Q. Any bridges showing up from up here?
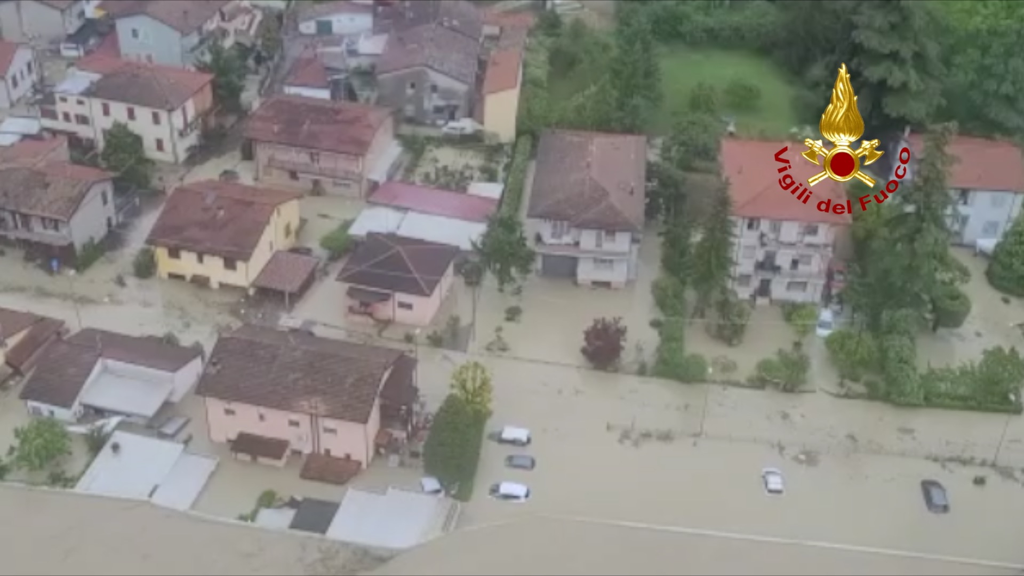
No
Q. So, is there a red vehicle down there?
No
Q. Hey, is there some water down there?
Yes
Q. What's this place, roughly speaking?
residential area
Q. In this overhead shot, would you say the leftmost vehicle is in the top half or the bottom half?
top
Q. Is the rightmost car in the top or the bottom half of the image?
bottom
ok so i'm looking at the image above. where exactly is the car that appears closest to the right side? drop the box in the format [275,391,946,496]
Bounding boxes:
[919,480,953,518]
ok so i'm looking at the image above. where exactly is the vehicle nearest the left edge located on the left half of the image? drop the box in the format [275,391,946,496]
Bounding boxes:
[58,37,85,58]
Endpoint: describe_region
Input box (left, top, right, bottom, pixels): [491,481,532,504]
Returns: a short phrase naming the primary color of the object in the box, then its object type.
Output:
white car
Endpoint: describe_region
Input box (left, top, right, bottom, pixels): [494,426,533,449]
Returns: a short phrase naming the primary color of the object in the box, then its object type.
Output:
white vehicle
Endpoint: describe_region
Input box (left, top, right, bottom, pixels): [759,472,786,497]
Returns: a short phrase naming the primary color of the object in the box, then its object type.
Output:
white car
